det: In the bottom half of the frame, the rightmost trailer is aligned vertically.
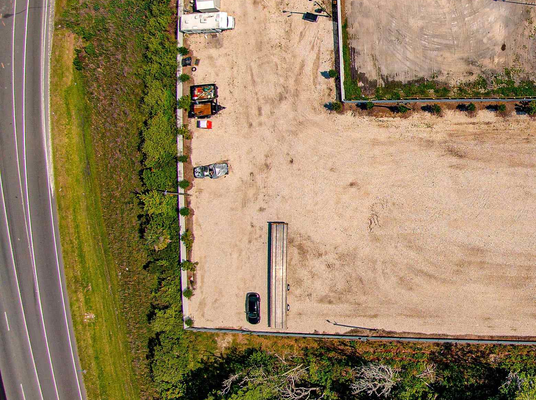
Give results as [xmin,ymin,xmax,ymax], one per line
[271,223,291,330]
